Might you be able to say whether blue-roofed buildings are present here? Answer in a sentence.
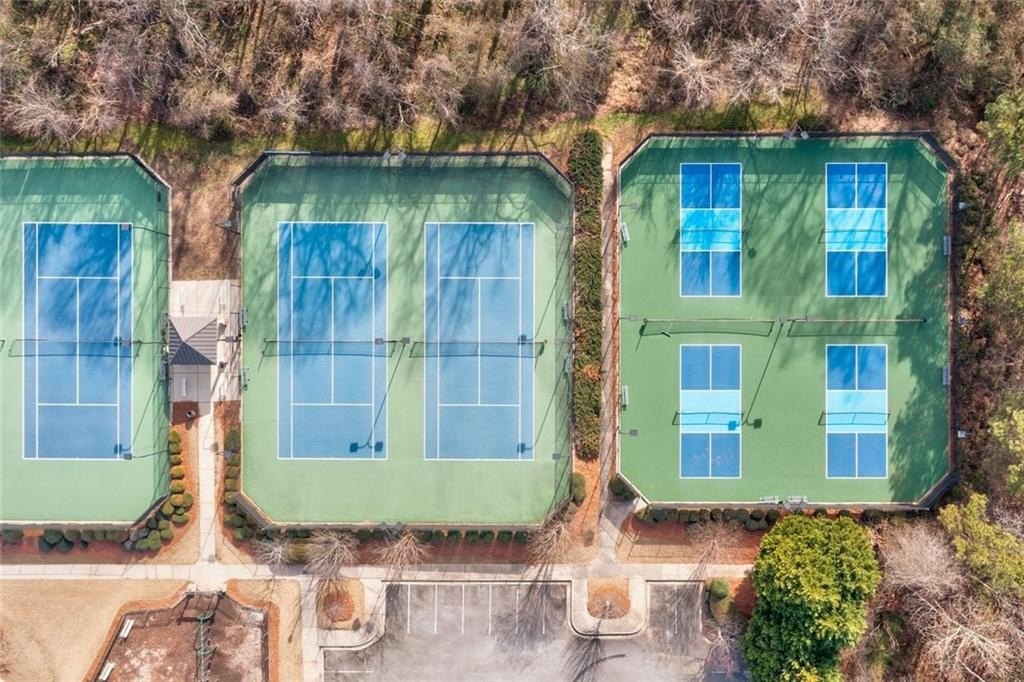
No, the photo shows no blue-roofed building.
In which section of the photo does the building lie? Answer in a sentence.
The building sits in the left section of the image.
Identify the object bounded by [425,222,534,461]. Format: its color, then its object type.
blue tennis court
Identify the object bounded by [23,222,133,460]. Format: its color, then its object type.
blue tennis court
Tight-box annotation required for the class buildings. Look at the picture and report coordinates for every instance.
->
[169,316,225,365]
